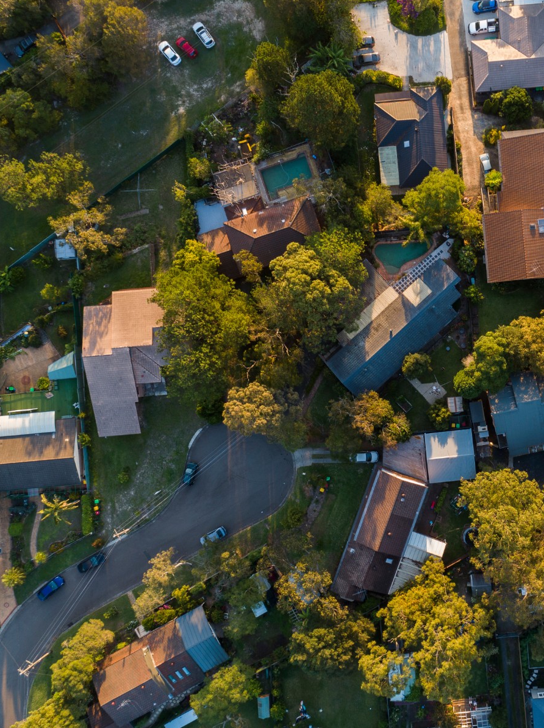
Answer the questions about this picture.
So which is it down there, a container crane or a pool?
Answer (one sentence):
I can see a pool in this picture.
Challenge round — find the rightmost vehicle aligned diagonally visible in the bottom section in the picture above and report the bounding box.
[199,526,226,547]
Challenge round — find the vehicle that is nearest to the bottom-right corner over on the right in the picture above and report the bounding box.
[349,451,379,464]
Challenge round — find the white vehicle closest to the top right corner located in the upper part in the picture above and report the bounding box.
[467,17,499,33]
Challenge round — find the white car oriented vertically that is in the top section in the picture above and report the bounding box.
[479,152,493,177]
